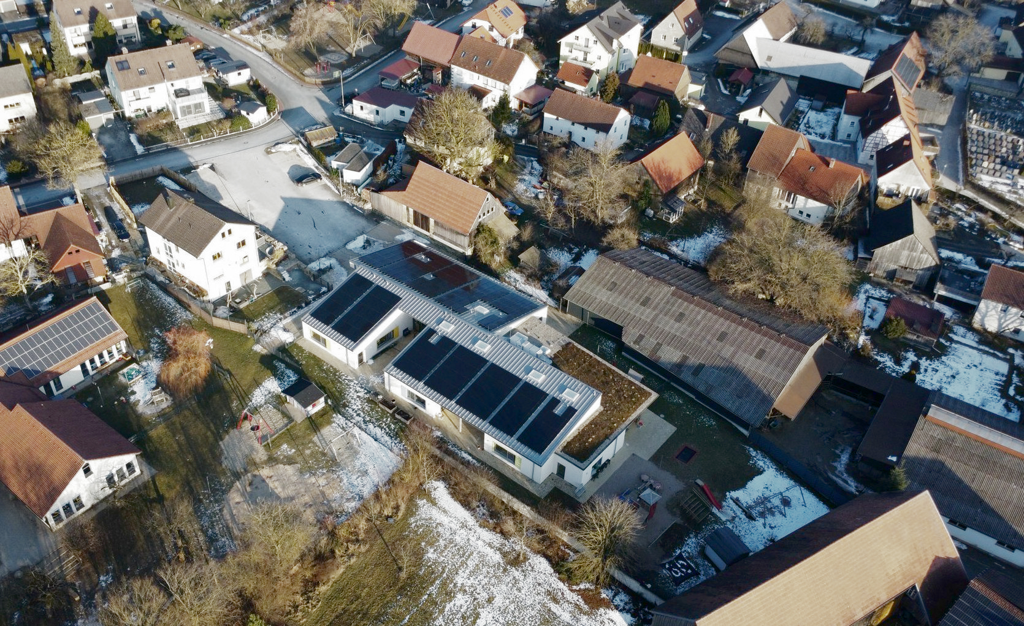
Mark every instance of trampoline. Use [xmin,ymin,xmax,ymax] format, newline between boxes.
[675,445,697,464]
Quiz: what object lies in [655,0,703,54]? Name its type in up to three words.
house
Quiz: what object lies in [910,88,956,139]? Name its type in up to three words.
shed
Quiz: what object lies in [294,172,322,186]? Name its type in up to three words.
car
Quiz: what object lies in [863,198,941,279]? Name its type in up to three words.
barn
